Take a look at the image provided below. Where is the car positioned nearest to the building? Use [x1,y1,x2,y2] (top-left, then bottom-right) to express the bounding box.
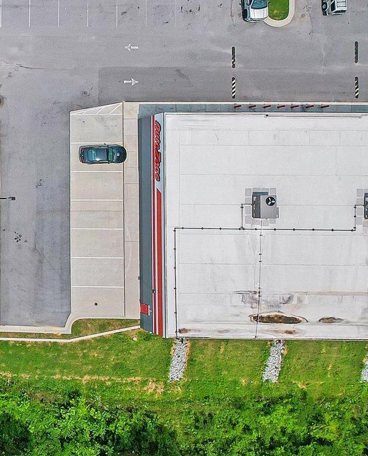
[79,143,127,165]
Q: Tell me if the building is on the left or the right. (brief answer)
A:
right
